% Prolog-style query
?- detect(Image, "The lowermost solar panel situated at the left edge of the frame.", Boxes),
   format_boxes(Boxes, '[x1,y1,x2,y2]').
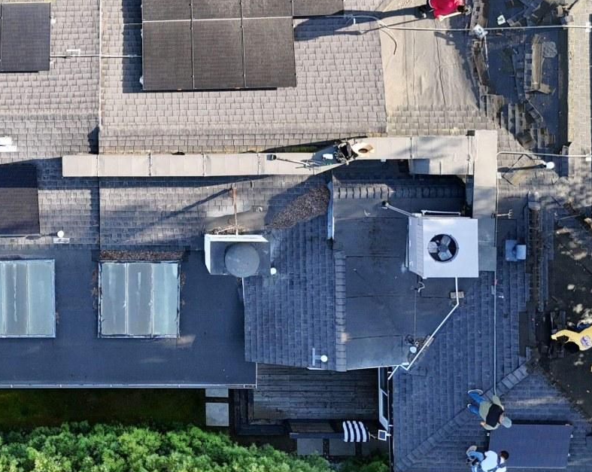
[0,163,40,234]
